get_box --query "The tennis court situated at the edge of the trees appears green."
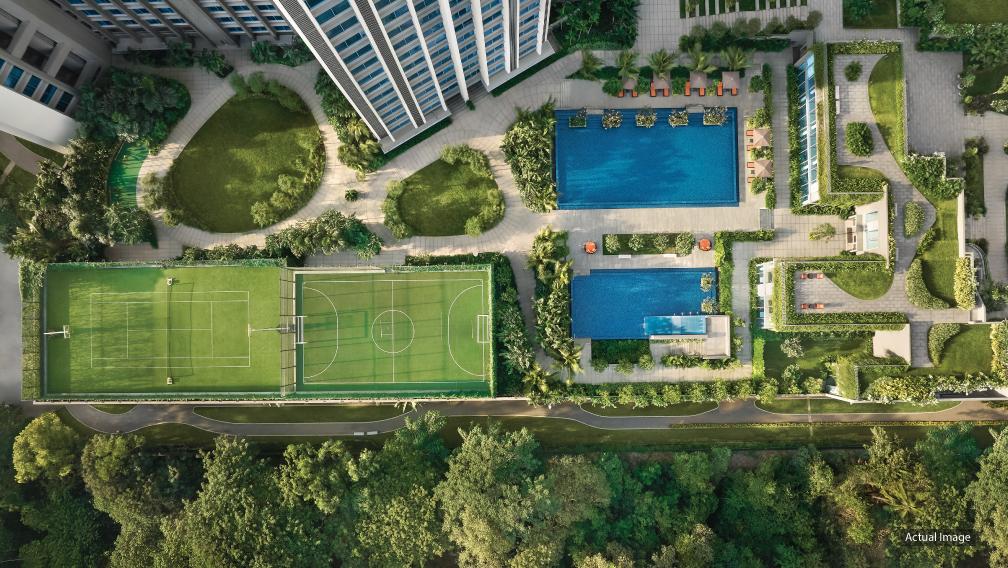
[45,263,295,399]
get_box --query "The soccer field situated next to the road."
[297,268,491,397]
